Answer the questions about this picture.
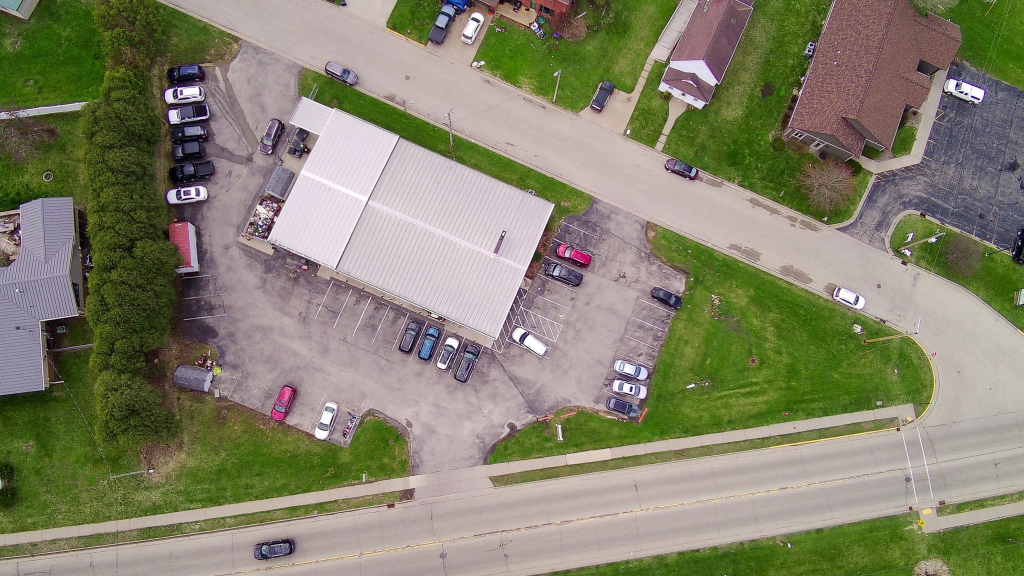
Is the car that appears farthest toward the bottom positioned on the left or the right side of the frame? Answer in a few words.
left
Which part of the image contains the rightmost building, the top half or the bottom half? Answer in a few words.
top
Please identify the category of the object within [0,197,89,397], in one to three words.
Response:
house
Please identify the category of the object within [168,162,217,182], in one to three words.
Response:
vehicle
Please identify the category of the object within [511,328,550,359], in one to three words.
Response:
car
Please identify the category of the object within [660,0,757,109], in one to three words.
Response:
house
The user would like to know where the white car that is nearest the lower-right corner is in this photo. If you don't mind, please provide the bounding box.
[830,287,866,310]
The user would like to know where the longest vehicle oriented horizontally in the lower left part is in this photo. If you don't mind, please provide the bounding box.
[253,537,298,561]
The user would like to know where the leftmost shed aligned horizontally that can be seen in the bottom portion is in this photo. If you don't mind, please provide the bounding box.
[172,365,217,392]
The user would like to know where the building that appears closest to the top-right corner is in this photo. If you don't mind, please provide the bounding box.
[783,0,960,159]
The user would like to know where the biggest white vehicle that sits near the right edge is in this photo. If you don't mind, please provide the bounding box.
[941,80,990,106]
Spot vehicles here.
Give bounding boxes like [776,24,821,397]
[323,59,360,86]
[260,118,284,155]
[604,397,639,420]
[589,79,612,115]
[511,328,550,359]
[171,126,209,144]
[543,262,585,289]
[461,12,484,46]
[941,80,990,106]
[648,284,683,311]
[399,320,422,354]
[428,4,457,47]
[611,380,648,401]
[454,343,480,385]
[272,383,296,421]
[555,243,593,269]
[168,162,217,182]
[436,336,459,373]
[167,187,209,204]
[163,86,207,104]
[167,105,212,124]
[663,158,700,183]
[253,537,298,561]
[171,141,207,160]
[167,65,207,84]
[612,361,649,383]
[1008,227,1024,266]
[315,400,339,441]
[418,325,441,362]
[830,287,866,310]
